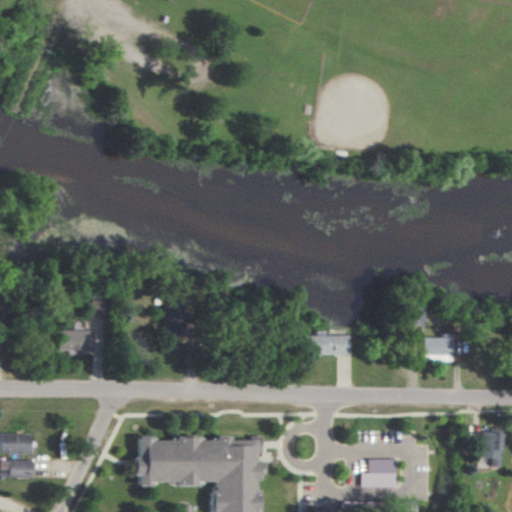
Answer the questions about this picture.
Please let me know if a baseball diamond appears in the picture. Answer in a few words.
Yes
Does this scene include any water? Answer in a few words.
Yes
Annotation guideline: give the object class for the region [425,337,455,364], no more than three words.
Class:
house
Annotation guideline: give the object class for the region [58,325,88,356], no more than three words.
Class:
house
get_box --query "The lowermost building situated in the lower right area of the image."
[360,460,398,488]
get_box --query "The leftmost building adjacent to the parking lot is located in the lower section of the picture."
[136,436,266,512]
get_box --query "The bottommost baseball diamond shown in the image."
[316,52,390,151]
